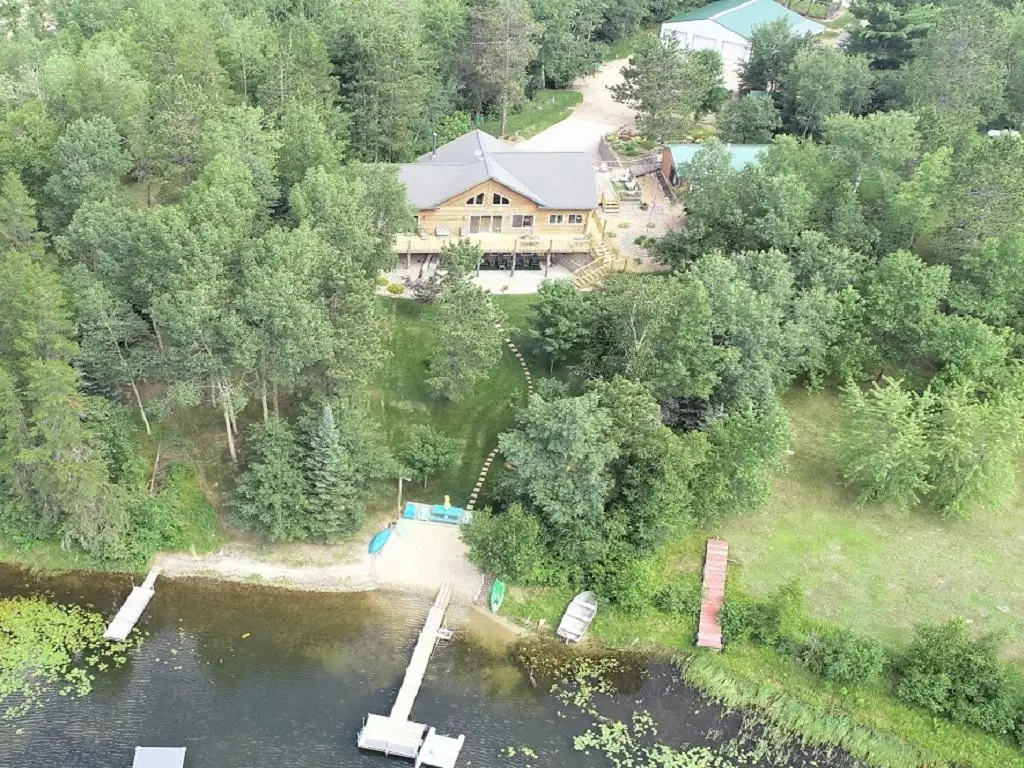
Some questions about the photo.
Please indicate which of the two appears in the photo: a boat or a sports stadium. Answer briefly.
boat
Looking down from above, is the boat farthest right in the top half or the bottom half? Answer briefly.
bottom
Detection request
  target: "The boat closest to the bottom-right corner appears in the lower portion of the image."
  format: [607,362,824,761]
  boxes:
[559,585,596,640]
